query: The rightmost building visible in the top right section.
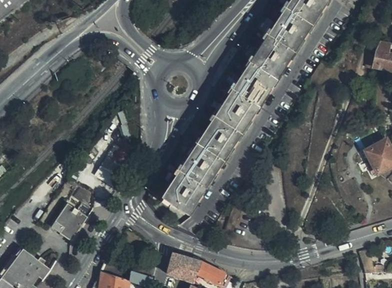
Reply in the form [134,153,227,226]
[370,40,392,74]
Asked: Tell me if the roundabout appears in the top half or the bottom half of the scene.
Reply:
top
